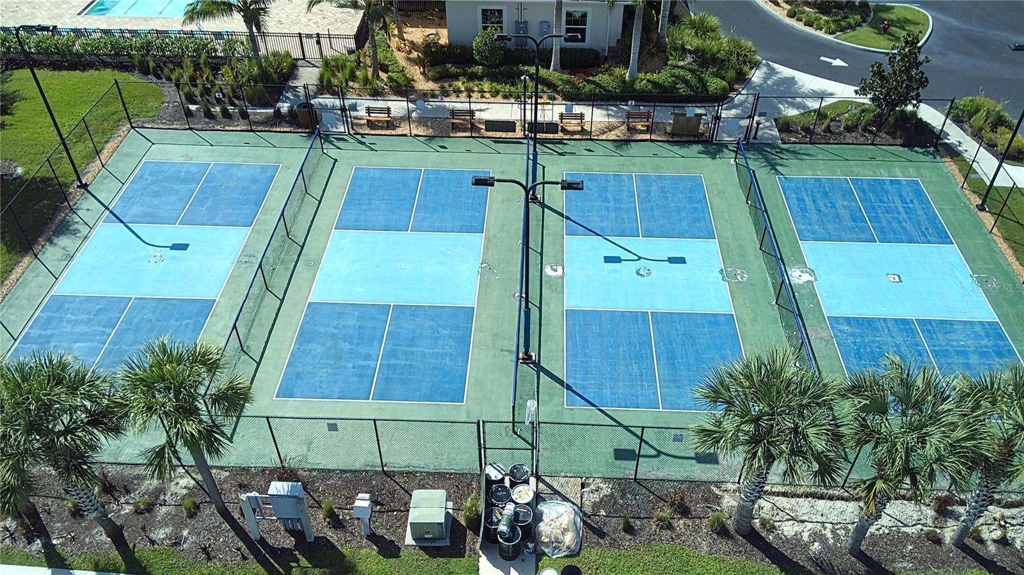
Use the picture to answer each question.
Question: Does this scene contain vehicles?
No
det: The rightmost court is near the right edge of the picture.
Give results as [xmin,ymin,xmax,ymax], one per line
[776,175,1024,423]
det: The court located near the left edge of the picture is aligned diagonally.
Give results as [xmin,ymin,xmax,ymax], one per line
[0,155,280,393]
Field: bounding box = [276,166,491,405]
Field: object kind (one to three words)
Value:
sports court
